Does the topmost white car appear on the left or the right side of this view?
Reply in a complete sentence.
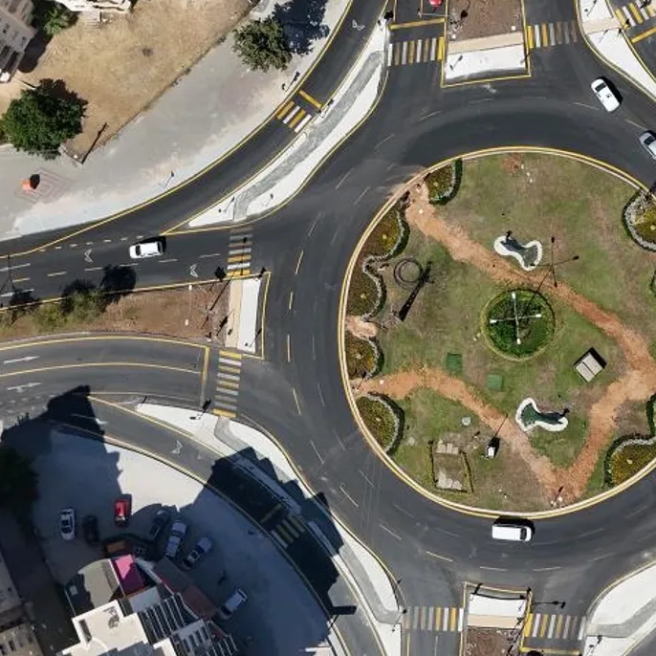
The topmost white car sits on the right side.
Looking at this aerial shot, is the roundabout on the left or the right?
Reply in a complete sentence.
The roundabout sits on the right side.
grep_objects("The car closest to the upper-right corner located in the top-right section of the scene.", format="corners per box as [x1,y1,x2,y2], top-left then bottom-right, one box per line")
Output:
[593,78,620,112]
